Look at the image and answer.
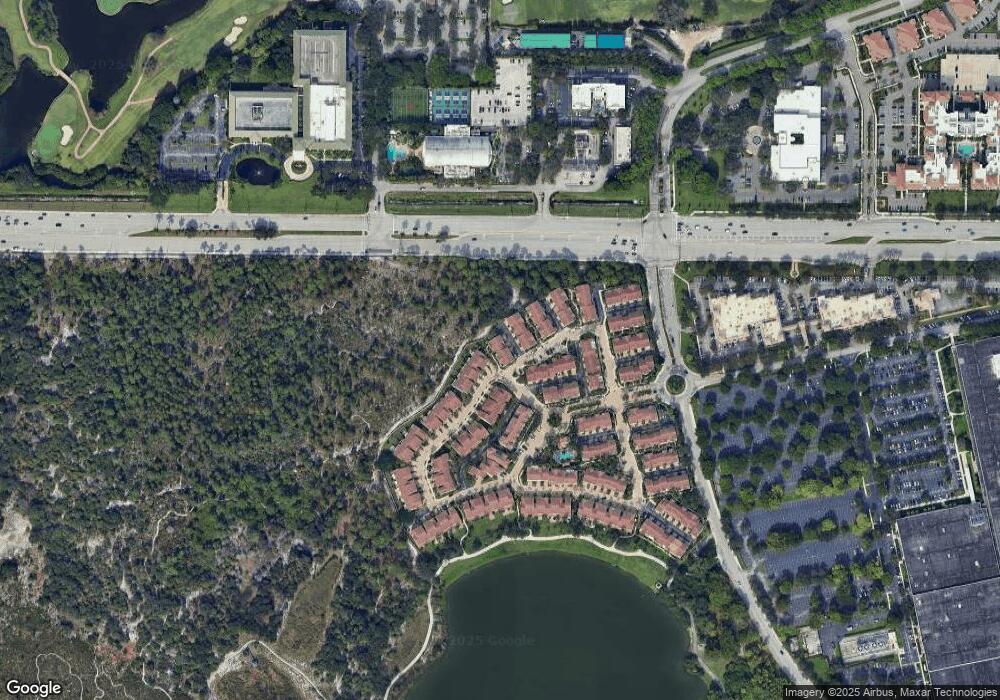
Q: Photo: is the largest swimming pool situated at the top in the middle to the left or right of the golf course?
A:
to the right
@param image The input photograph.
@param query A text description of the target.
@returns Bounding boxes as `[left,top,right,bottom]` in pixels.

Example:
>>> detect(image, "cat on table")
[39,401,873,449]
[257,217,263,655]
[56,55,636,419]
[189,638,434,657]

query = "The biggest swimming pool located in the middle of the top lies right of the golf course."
[384,139,424,166]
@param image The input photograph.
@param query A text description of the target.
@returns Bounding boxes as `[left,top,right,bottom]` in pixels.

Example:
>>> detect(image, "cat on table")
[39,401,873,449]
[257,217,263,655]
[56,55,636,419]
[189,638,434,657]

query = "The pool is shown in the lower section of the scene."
[554,447,576,462]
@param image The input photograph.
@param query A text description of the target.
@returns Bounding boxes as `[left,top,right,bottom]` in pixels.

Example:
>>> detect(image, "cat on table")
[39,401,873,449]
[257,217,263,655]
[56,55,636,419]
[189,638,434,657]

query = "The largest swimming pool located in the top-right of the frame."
[952,138,979,160]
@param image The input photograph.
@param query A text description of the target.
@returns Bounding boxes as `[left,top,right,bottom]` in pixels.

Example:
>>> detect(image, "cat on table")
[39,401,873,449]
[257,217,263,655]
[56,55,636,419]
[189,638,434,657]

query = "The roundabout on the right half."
[658,365,692,400]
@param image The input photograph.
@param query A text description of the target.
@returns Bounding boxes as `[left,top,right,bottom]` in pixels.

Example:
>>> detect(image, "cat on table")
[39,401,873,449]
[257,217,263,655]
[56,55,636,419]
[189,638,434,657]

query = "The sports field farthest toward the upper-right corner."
[492,0,769,27]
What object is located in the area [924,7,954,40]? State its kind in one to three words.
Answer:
house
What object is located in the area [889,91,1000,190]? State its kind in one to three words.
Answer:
building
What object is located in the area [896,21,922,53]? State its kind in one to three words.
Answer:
house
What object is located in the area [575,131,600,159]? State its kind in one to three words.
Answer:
building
